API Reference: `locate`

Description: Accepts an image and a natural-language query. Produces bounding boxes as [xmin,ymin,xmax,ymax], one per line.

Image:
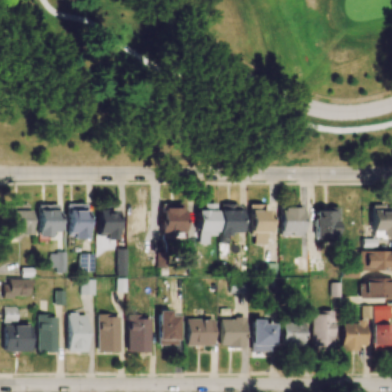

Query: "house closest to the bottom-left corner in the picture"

[4,324,34,355]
